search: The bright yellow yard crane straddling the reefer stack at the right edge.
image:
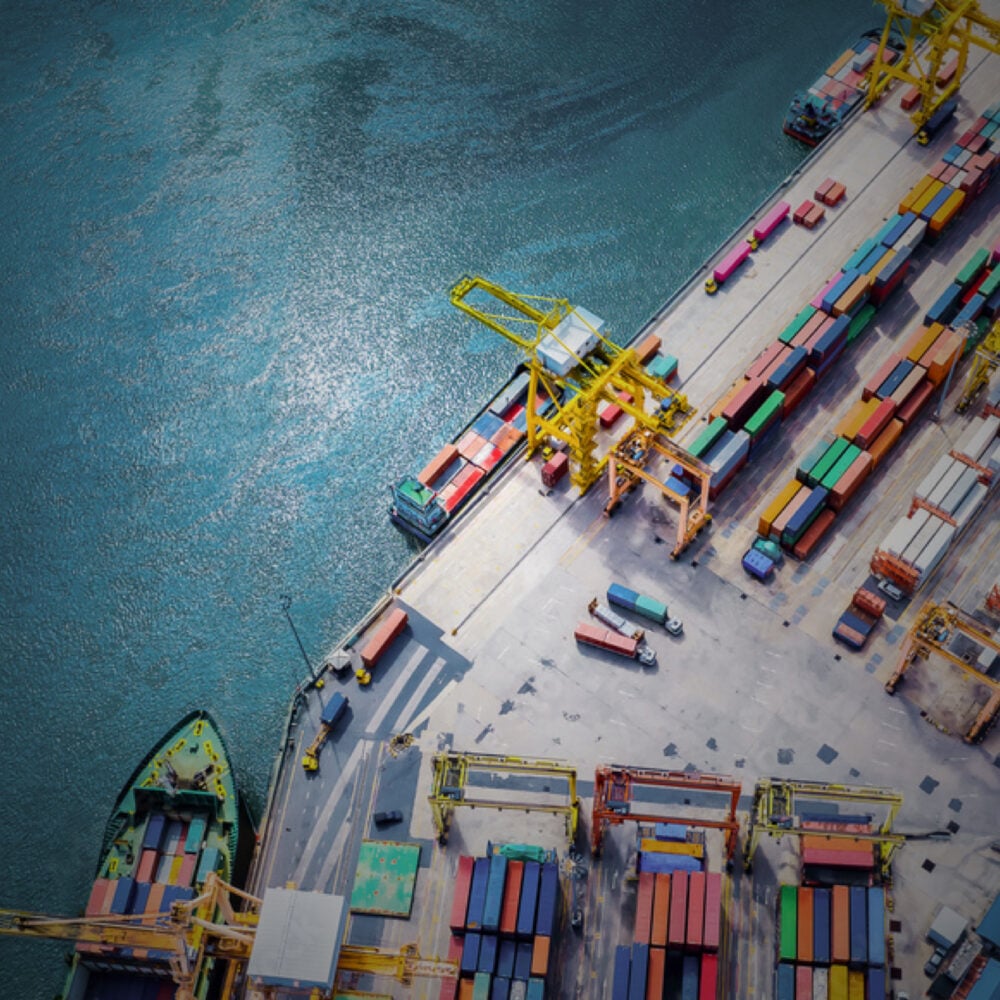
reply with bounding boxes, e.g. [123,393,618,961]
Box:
[954,327,1000,414]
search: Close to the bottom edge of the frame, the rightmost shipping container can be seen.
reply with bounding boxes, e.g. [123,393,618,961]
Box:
[946,941,979,983]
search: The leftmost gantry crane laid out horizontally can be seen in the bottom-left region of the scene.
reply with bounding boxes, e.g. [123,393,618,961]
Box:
[0,872,462,1000]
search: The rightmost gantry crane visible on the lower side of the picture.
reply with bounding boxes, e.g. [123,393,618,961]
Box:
[878,600,1000,751]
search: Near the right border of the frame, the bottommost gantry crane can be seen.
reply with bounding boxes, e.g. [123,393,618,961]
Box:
[742,771,960,892]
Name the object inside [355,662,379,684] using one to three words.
truck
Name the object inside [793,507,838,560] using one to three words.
shipping container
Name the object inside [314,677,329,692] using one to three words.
work vehicle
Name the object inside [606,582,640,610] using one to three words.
shipping container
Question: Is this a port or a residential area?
port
